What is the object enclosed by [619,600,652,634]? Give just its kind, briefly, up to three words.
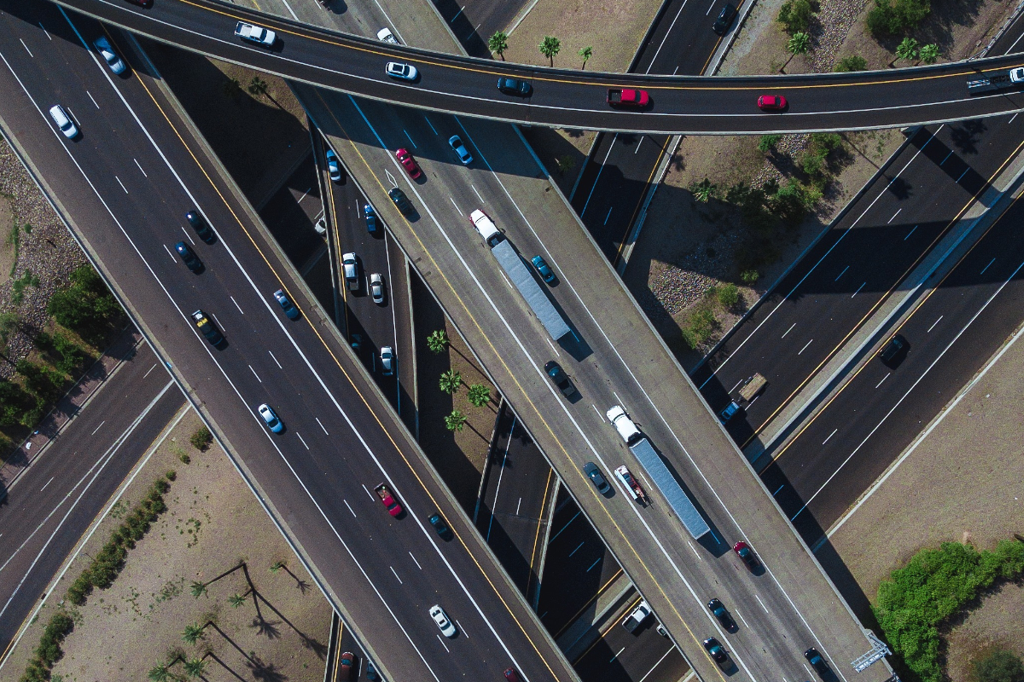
truck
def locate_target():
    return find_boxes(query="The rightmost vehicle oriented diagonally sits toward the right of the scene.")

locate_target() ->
[877,332,909,366]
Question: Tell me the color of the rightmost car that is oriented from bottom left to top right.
black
